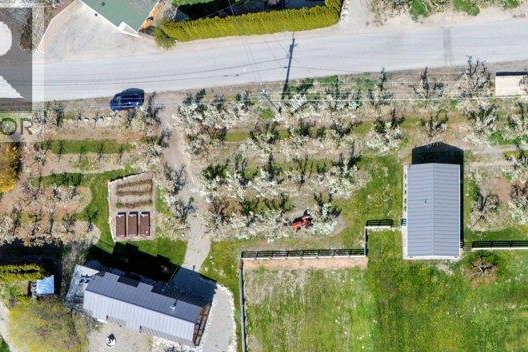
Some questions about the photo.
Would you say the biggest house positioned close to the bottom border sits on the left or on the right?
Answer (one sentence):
The biggest house positioned close to the bottom border sits on the left side.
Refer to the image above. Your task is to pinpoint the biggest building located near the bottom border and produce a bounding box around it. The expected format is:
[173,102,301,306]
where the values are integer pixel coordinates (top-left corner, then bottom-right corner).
[79,272,218,350]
